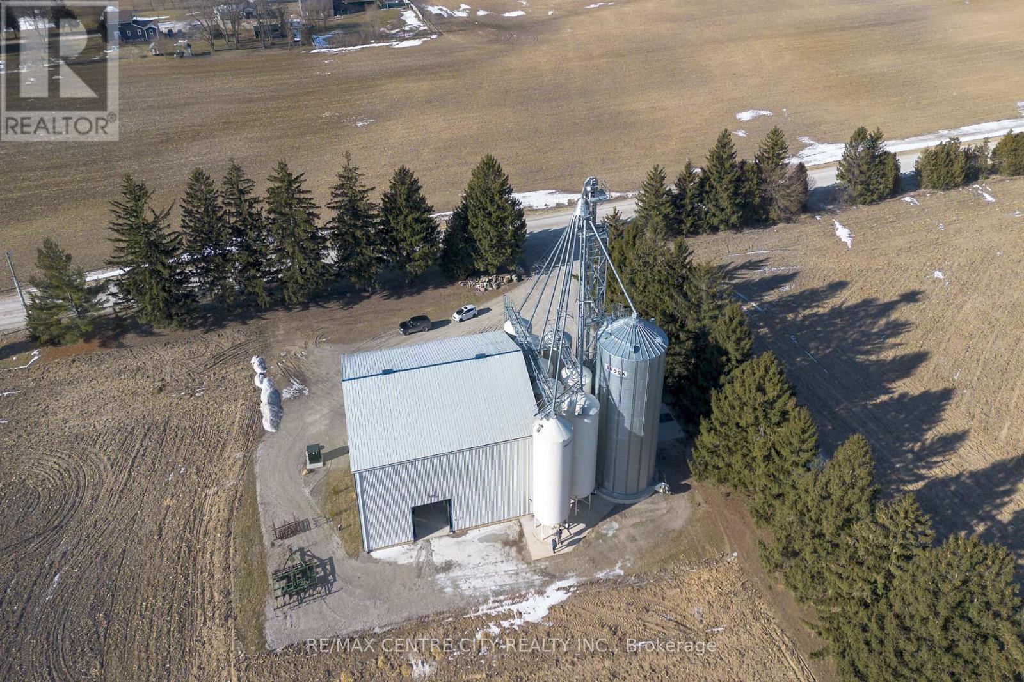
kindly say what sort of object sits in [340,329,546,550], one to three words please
barn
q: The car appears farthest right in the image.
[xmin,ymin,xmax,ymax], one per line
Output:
[452,304,479,321]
